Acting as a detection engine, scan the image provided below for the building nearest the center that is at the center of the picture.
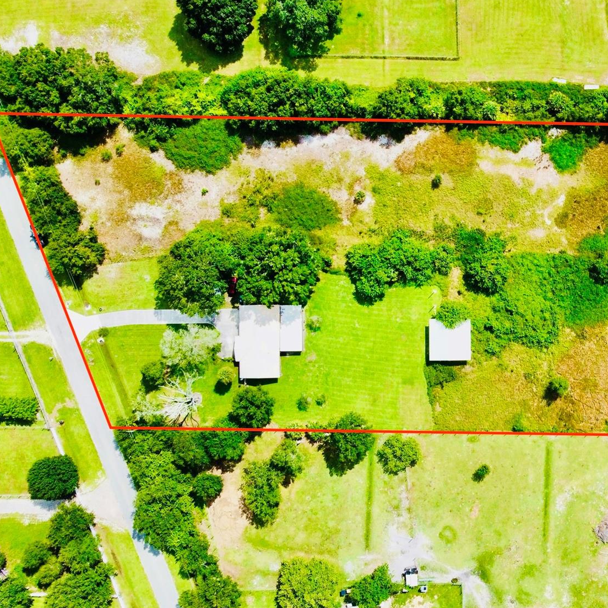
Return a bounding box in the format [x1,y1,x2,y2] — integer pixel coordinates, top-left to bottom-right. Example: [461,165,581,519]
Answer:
[235,305,304,378]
